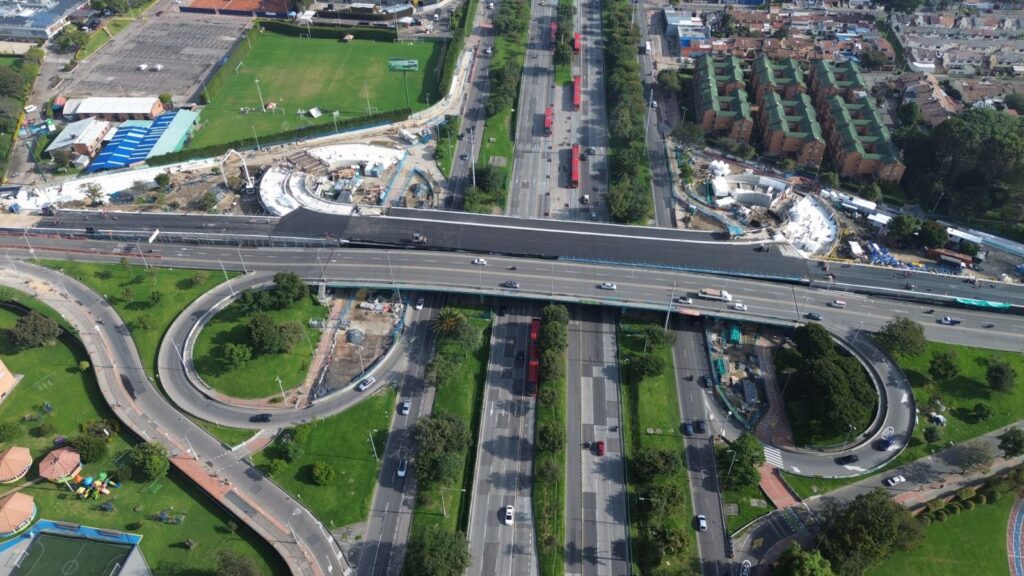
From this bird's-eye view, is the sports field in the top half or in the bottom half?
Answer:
top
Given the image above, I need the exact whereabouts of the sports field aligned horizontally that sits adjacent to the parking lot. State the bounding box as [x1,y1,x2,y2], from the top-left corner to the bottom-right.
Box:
[183,33,446,148]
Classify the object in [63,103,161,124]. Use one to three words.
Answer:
building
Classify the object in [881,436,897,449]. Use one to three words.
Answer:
vehicle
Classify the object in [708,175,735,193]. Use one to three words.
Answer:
tent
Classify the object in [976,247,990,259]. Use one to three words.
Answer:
vehicle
